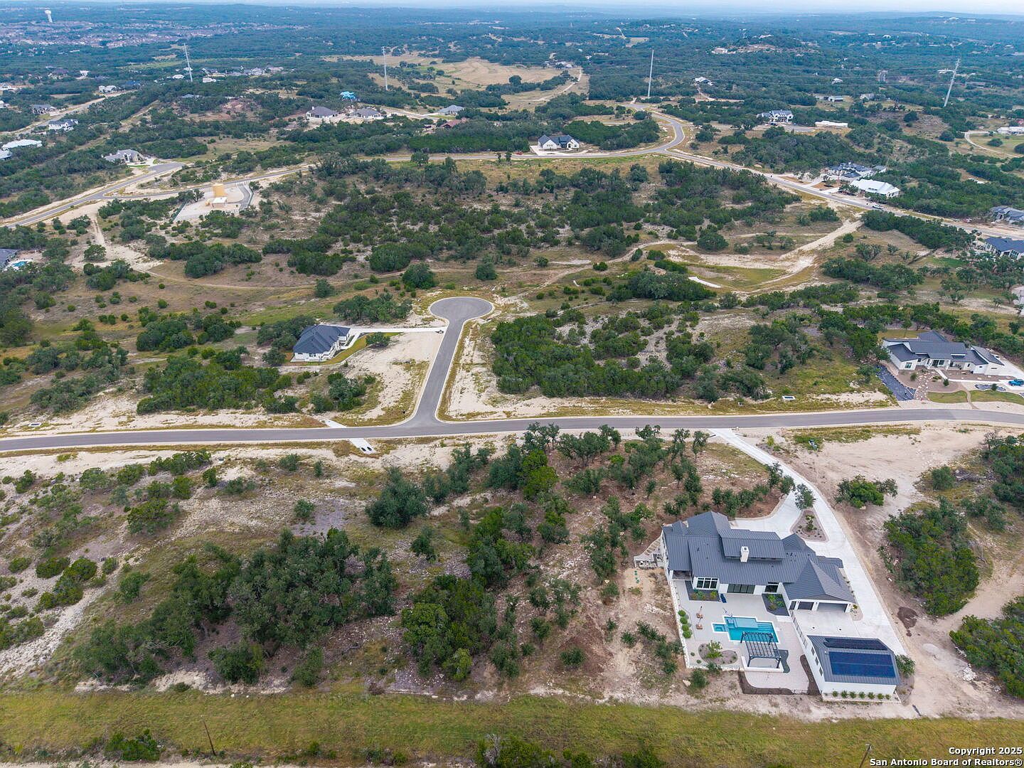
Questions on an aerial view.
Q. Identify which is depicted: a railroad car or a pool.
pool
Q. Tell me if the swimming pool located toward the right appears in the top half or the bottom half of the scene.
bottom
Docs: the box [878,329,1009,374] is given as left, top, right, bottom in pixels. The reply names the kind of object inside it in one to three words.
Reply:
house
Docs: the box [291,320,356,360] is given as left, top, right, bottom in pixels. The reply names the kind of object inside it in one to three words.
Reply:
house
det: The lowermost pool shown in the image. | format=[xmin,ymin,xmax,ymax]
[709,615,781,645]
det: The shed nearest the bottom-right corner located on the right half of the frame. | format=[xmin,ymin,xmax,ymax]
[804,635,900,696]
